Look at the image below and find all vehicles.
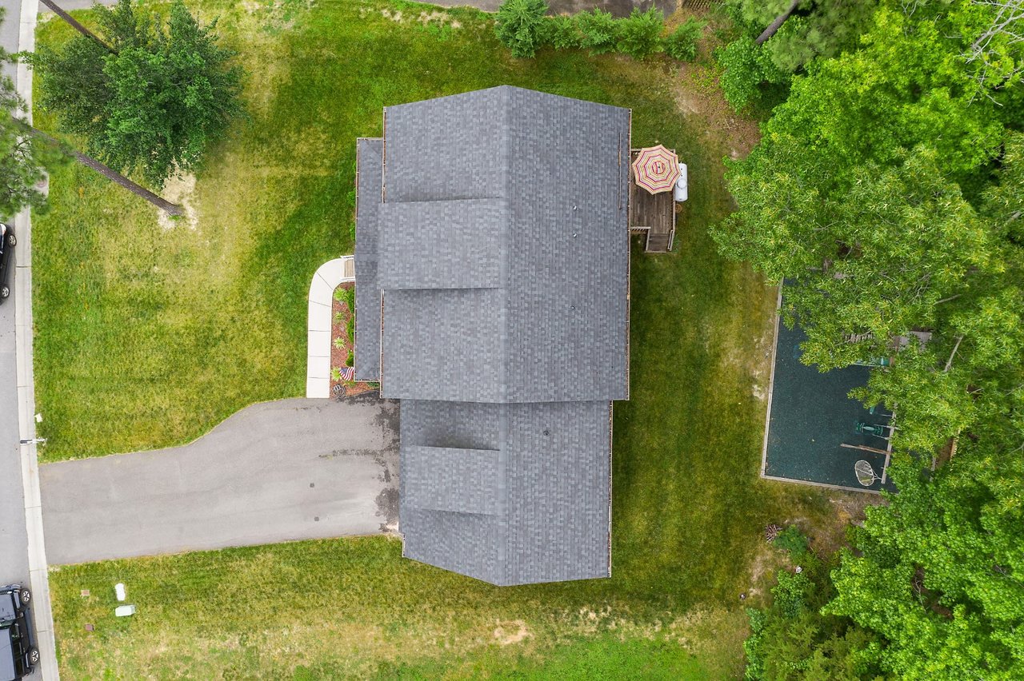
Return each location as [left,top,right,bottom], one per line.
[0,220,20,310]
[0,580,42,681]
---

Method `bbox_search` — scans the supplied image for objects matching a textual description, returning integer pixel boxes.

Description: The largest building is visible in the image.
[339,85,632,586]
